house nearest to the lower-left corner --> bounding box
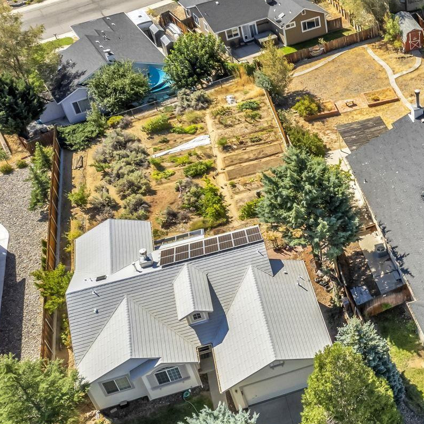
[64,217,333,413]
